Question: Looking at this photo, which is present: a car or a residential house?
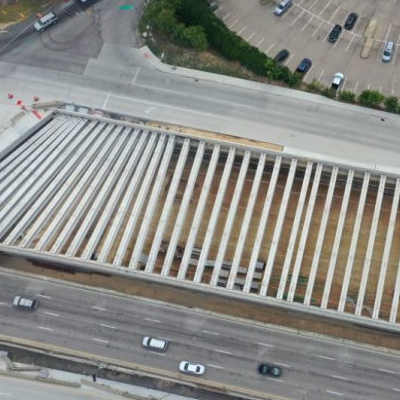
car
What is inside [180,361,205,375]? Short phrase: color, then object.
white vehicle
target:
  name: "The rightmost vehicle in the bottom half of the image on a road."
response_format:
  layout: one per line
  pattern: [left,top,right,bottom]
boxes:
[258,363,283,377]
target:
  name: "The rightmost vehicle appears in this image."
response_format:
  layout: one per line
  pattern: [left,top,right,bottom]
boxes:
[382,40,395,62]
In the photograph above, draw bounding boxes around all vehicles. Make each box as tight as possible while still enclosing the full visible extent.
[274,0,293,16]
[258,363,283,377]
[343,10,358,31]
[273,47,292,64]
[295,56,313,77]
[180,361,205,375]
[328,68,347,94]
[14,295,38,310]
[143,336,170,351]
[328,23,343,43]
[36,12,57,30]
[382,40,395,62]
